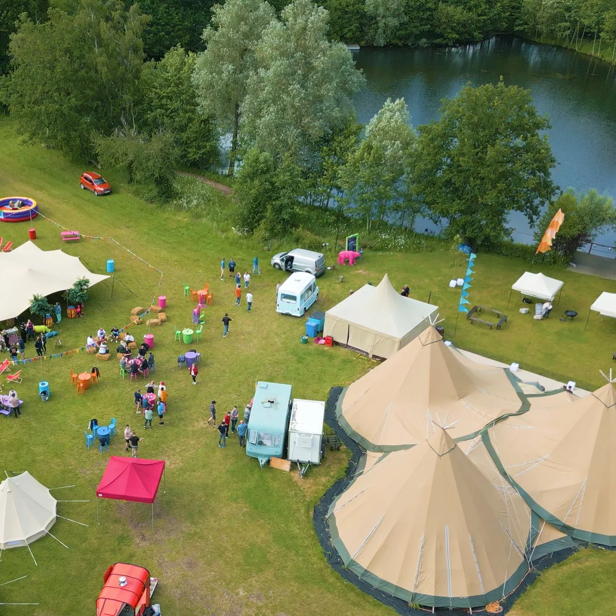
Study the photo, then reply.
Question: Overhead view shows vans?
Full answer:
Yes, I can see a van in this picture.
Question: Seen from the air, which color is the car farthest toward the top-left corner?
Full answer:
The car farthest toward the top-left corner looks red in the image.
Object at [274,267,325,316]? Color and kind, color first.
white van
